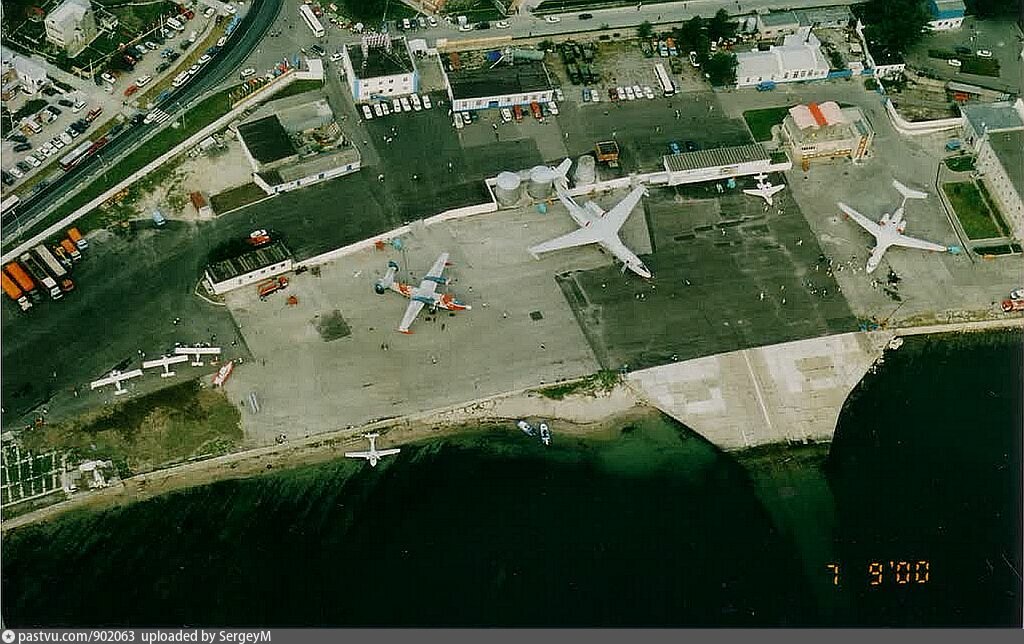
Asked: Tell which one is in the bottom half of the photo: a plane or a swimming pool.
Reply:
plane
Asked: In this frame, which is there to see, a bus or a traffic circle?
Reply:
bus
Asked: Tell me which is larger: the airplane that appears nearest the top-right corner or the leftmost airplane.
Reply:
the airplane that appears nearest the top-right corner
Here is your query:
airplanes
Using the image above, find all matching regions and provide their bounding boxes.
[174,342,221,365]
[91,368,140,393]
[142,353,188,377]
[345,434,400,470]
[838,178,946,272]
[743,169,784,204]
[528,155,653,282]
[373,251,471,333]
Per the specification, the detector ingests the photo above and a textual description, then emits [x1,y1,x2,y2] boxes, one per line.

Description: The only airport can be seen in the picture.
[0,47,1024,444]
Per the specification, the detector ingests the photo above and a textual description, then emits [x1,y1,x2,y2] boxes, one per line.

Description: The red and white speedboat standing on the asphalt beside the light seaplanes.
[213,360,231,386]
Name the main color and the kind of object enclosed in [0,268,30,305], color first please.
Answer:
orange truck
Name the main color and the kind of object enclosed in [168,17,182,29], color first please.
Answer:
white vehicle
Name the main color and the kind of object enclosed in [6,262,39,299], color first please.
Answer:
orange truck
